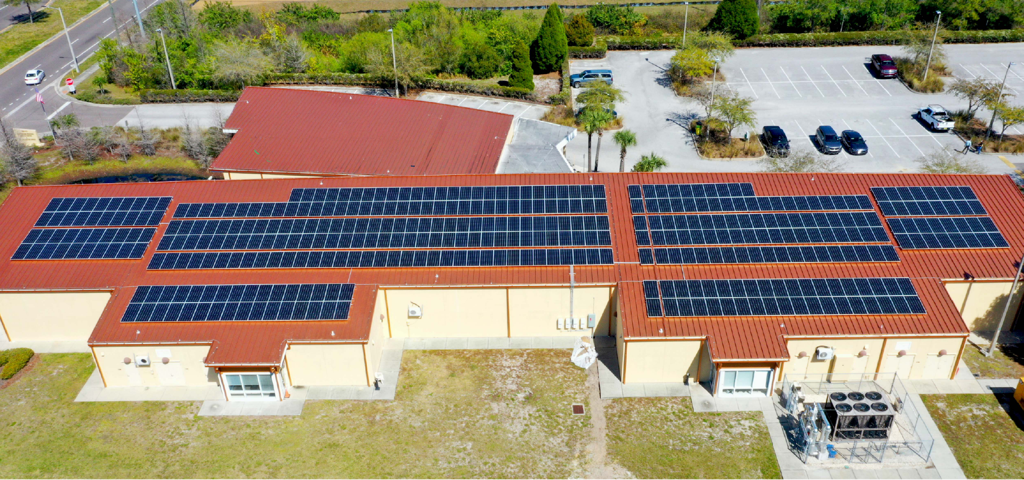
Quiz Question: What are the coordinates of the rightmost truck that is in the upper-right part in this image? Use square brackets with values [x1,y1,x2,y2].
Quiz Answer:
[915,98,953,128]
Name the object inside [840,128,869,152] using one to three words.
car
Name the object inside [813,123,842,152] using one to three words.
car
